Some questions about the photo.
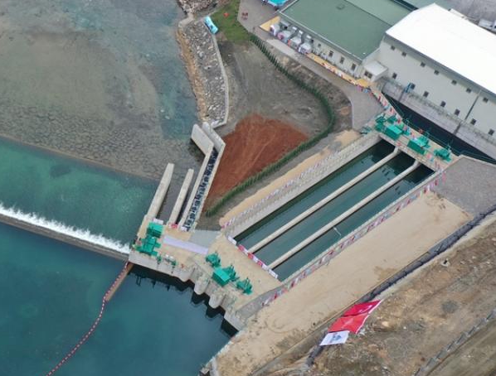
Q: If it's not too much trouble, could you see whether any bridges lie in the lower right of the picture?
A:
No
